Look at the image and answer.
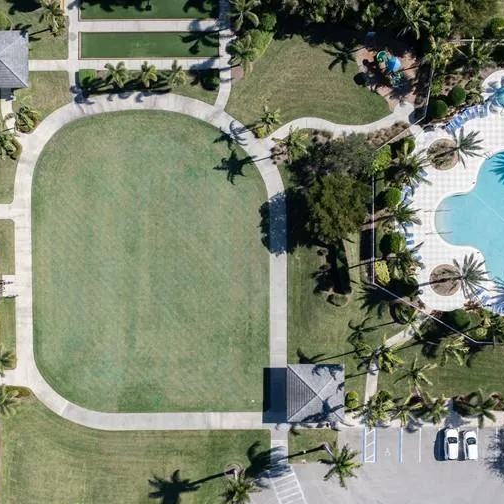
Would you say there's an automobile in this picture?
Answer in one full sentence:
Yes, there is an automobile in the image.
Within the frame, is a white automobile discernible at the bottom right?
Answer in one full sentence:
Yes, a white automobile shows up at the bottom right.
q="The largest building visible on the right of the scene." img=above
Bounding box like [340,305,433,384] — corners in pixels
[287,364,345,422]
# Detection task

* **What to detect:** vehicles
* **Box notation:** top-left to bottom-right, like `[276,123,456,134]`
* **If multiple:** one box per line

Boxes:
[463,429,479,460]
[443,427,459,459]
